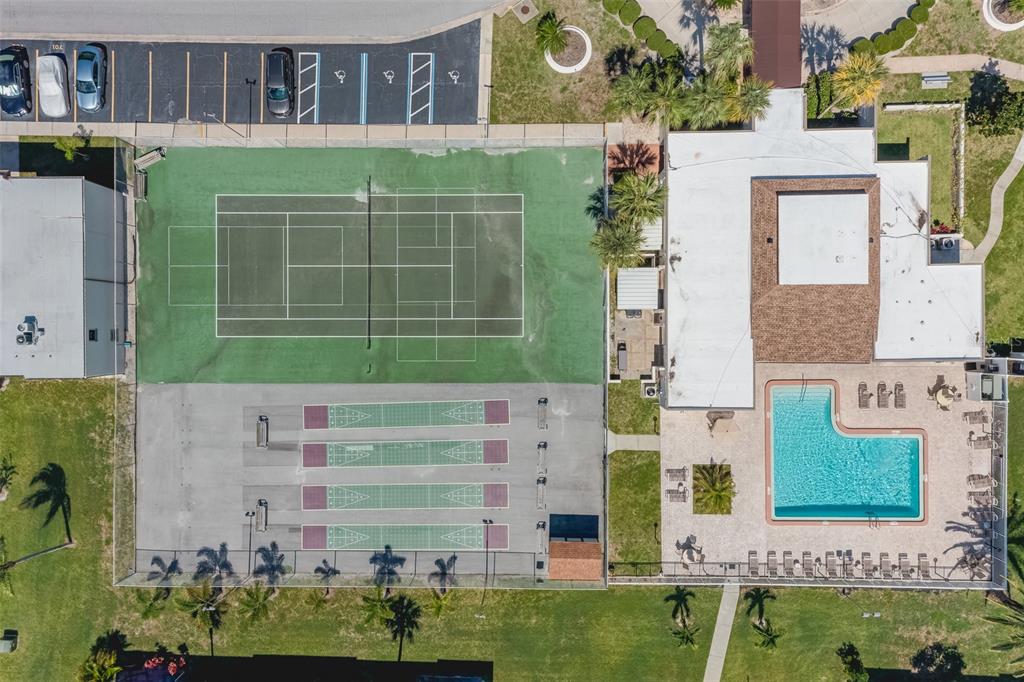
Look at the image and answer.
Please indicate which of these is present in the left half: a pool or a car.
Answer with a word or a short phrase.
car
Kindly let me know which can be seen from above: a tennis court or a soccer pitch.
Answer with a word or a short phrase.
tennis court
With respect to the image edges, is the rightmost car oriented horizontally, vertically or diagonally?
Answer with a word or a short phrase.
vertically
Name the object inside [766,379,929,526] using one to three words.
swimming pool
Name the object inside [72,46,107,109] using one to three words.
car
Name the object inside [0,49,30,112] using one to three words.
car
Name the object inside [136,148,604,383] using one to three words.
tennis court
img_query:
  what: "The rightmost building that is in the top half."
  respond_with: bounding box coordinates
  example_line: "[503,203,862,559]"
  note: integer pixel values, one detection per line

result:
[660,88,983,408]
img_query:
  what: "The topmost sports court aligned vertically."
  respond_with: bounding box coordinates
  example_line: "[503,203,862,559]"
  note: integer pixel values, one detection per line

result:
[397,188,476,361]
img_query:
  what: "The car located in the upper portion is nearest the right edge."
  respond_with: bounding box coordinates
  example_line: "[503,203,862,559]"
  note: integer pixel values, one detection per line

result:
[264,48,296,112]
